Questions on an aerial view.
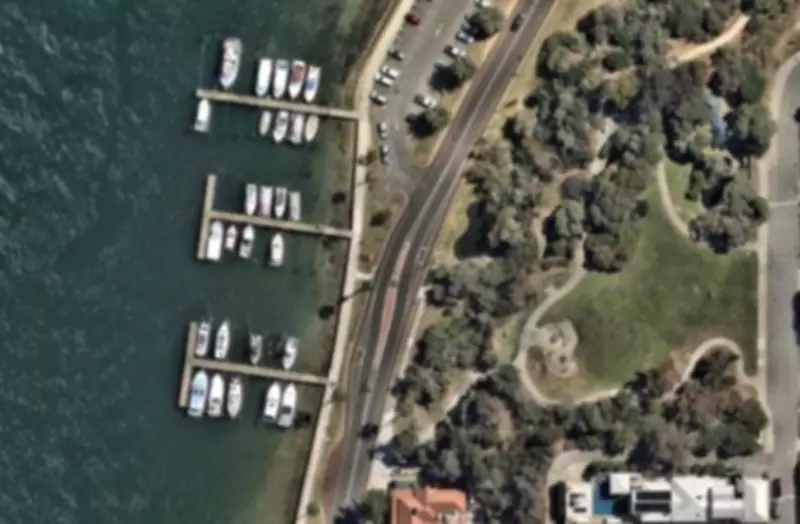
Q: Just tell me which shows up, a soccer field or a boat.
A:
boat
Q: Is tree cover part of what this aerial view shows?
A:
Yes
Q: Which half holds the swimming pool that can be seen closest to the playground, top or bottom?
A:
bottom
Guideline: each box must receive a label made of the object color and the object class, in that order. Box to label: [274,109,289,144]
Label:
white boat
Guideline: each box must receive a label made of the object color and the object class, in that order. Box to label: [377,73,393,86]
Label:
white vehicle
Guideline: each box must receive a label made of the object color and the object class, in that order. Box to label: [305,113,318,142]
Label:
white boat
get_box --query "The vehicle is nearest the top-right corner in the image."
[510,13,523,30]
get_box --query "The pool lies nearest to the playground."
[593,485,616,515]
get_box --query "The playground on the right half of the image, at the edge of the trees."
[518,319,578,380]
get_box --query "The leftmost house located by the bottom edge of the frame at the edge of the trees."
[392,469,468,524]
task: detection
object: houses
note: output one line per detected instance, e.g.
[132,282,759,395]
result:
[566,474,770,524]
[392,469,468,524]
